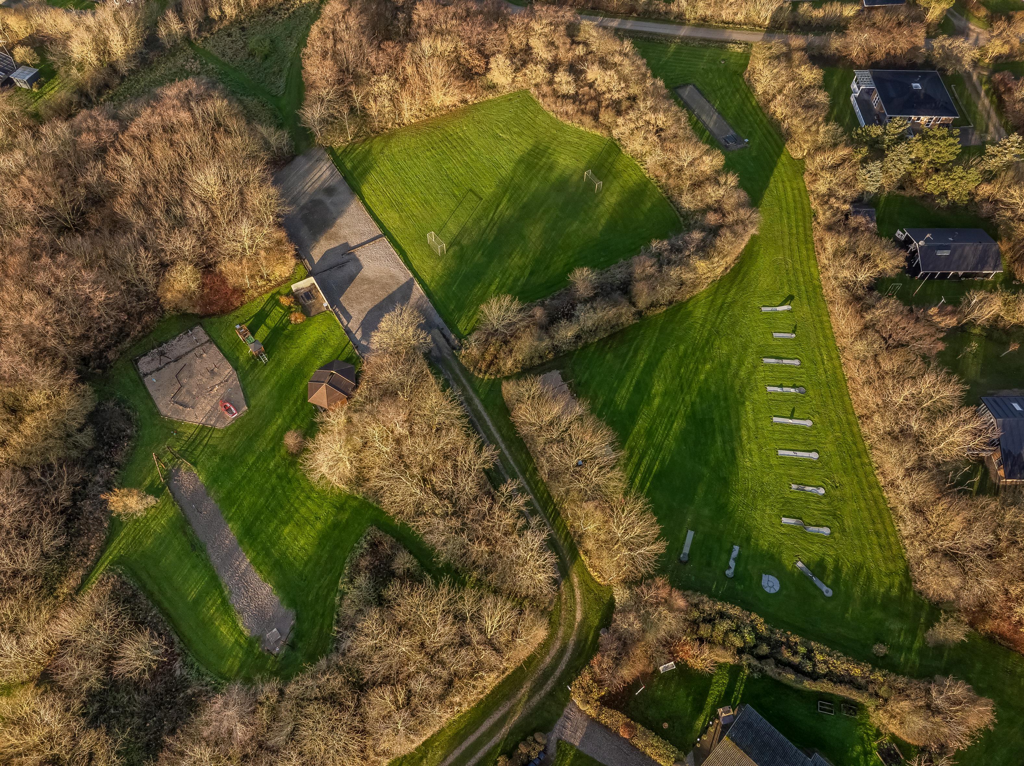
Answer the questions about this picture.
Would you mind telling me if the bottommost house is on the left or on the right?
right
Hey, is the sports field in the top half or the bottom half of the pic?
top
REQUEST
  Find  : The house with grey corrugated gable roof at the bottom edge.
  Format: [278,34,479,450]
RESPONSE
[701,703,829,766]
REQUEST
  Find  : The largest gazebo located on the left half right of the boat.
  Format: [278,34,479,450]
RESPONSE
[308,360,355,413]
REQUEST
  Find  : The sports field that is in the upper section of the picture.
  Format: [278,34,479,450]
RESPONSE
[325,90,683,336]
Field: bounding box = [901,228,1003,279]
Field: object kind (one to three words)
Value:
house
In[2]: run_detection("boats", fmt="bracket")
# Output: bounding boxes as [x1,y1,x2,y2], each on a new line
[219,399,237,418]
